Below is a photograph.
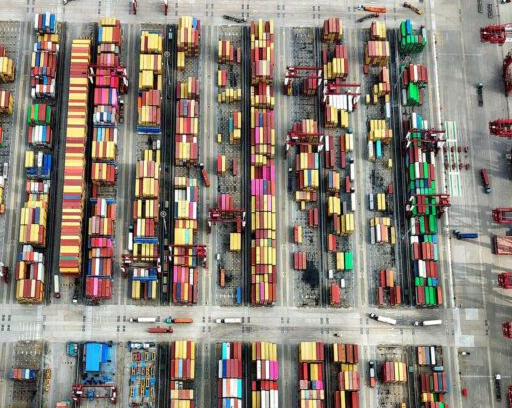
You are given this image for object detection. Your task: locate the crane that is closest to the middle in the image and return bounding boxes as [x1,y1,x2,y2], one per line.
[206,213,247,239]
